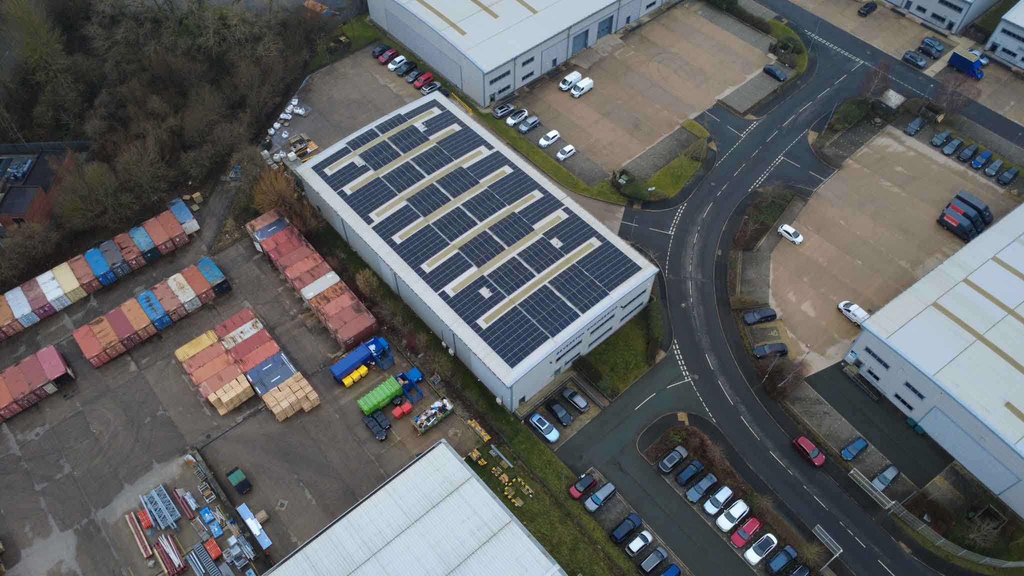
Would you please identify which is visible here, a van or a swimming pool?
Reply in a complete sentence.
The one in the frame is a van.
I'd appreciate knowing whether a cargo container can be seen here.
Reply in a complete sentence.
Yes, the image includes a cargo container.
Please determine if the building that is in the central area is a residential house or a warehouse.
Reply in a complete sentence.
Looking closely, the building that is in the central area is a warehouse.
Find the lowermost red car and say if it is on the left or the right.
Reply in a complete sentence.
The lowermost red car appears in the right half of the scene.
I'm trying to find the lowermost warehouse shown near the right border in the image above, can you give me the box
[842,199,1024,517]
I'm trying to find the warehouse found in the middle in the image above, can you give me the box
[289,90,661,414]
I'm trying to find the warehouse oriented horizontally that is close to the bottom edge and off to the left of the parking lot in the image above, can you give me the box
[258,437,571,576]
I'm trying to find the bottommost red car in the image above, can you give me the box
[732,516,762,547]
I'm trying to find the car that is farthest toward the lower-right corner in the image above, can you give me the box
[871,464,901,492]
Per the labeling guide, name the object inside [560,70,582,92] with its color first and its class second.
white vehicle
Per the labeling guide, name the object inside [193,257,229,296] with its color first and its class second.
blue shipping container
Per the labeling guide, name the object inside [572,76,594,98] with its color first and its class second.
white vehicle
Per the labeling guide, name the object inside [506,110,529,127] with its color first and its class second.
white car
